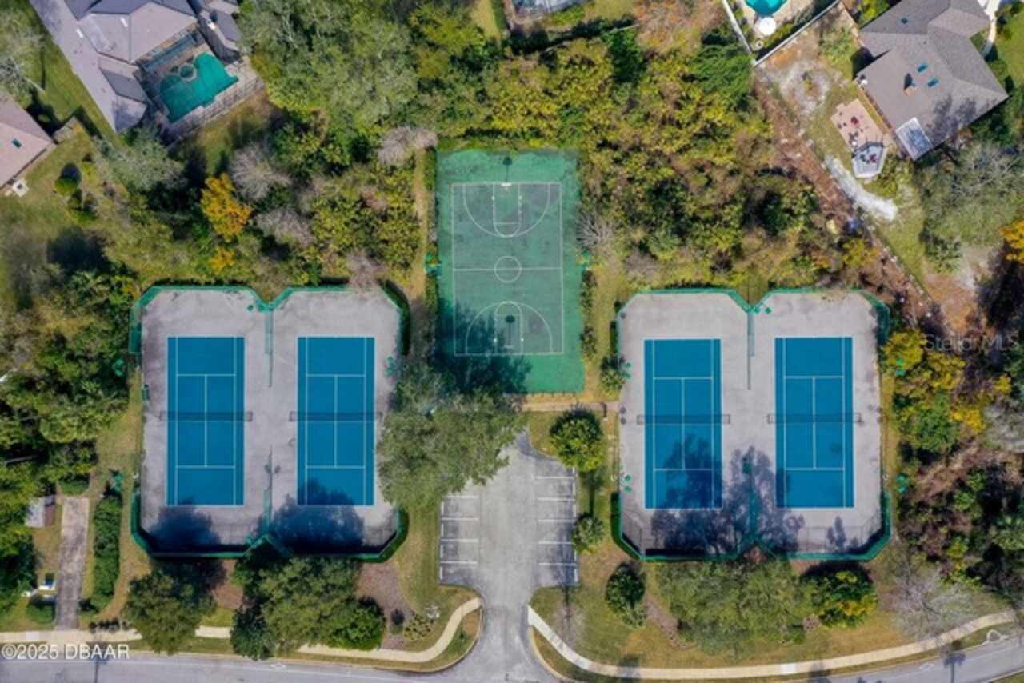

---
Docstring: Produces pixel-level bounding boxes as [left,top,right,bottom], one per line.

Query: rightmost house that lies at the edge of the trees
[850,0,1009,162]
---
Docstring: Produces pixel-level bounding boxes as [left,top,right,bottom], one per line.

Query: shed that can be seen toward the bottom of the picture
[25,493,66,528]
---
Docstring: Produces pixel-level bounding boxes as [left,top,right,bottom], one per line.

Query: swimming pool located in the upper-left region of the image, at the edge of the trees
[159,51,240,123]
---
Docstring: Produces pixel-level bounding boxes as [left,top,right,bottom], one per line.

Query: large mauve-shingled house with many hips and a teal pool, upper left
[30,0,252,132]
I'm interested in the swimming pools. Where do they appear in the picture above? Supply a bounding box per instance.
[744,0,788,17]
[159,51,240,123]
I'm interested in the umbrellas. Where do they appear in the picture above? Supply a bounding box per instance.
[758,18,774,34]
